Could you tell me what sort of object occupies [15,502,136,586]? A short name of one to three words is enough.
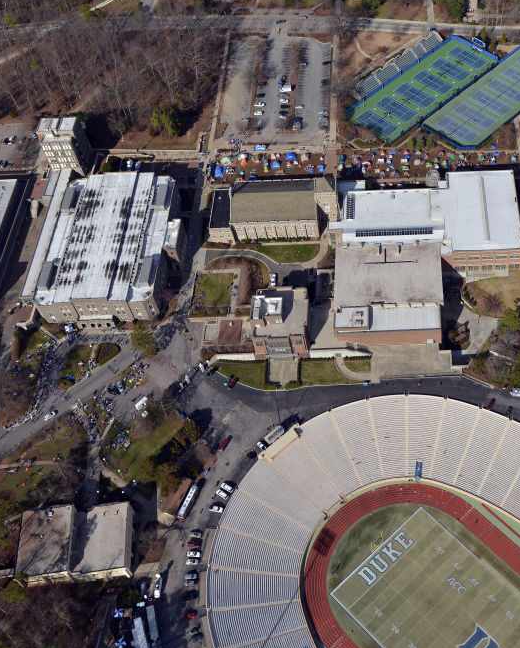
building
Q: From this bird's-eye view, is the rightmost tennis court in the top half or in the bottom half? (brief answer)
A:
top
